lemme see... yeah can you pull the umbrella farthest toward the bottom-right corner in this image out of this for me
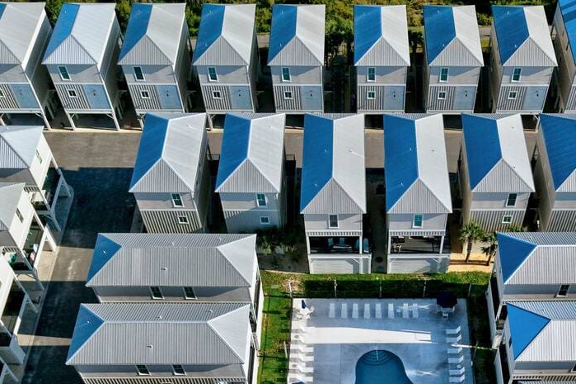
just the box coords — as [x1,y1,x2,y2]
[437,292,458,313]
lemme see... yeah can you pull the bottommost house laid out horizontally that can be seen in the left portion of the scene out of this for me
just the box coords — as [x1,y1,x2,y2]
[65,302,258,384]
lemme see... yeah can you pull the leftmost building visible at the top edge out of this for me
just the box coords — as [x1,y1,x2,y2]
[0,3,60,130]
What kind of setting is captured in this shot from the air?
residential area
